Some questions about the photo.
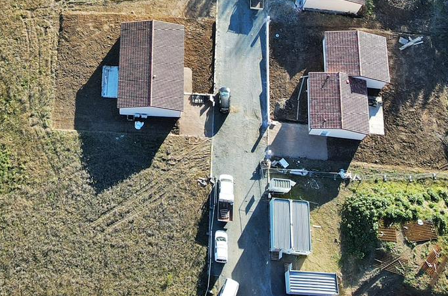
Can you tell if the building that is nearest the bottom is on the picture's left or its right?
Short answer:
right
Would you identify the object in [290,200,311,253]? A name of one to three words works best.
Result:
building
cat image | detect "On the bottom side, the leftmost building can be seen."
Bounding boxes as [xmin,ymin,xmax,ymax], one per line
[268,199,292,253]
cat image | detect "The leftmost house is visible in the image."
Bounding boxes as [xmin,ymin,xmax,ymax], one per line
[116,20,185,115]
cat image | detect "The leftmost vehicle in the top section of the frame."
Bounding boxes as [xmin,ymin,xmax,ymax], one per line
[218,87,231,114]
